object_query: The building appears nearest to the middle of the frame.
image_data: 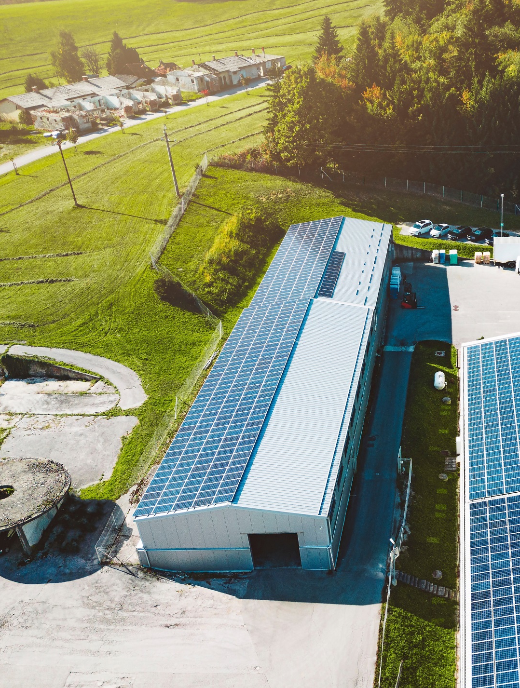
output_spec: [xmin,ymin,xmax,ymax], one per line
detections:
[131,218,393,572]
